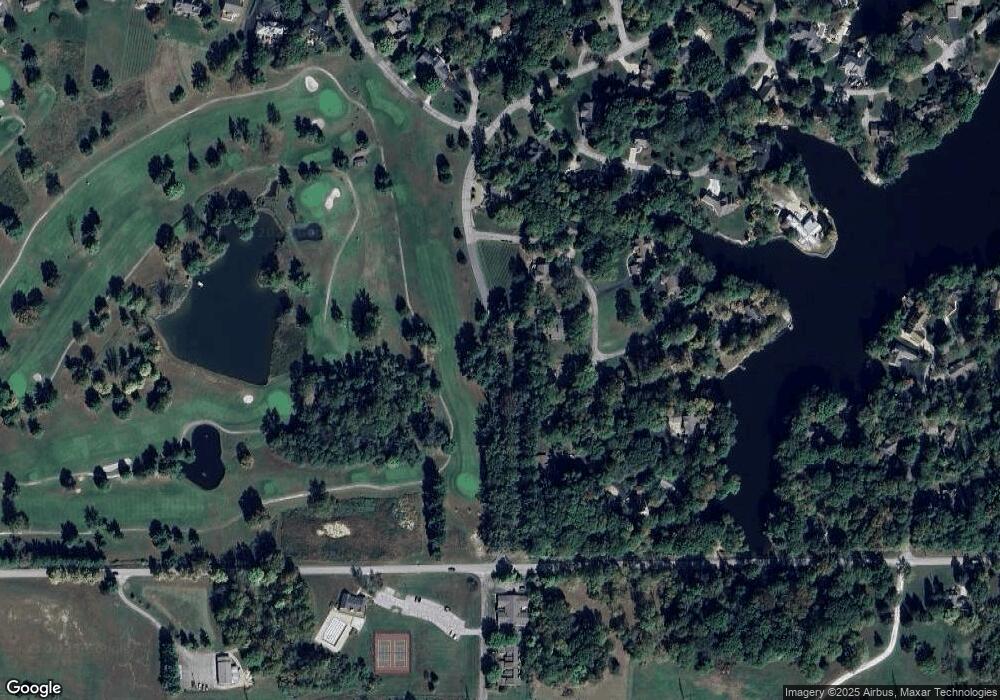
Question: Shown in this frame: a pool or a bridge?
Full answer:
Visible in the photo is a pool.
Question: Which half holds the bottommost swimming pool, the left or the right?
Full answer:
You can find the bottommost swimming pool on the left side of the picture.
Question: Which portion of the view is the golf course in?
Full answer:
The golf course sits in the left section of the image.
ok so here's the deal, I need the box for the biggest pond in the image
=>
[156,210,281,386]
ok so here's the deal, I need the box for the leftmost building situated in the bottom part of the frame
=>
[217,649,239,683]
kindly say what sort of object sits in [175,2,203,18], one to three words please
house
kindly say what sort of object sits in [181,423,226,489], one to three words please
pond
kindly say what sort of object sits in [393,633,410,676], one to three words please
tennis court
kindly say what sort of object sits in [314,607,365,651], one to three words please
swimming pool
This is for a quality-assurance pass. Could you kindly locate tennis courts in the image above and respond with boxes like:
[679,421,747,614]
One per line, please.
[375,633,393,676]
[393,633,410,676]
